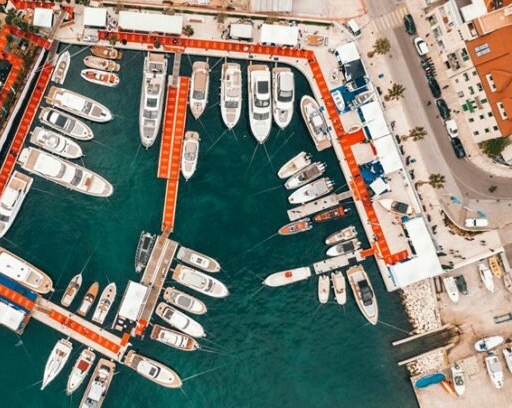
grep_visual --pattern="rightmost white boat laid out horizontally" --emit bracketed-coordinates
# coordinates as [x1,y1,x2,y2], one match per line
[472,336,505,351]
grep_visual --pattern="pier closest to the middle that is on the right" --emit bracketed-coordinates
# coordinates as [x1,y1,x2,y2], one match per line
[287,196,341,222]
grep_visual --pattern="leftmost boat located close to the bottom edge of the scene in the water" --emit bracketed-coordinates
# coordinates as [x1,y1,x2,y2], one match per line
[34,333,71,394]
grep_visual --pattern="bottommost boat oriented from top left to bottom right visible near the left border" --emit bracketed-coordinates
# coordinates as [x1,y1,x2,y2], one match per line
[0,250,53,301]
